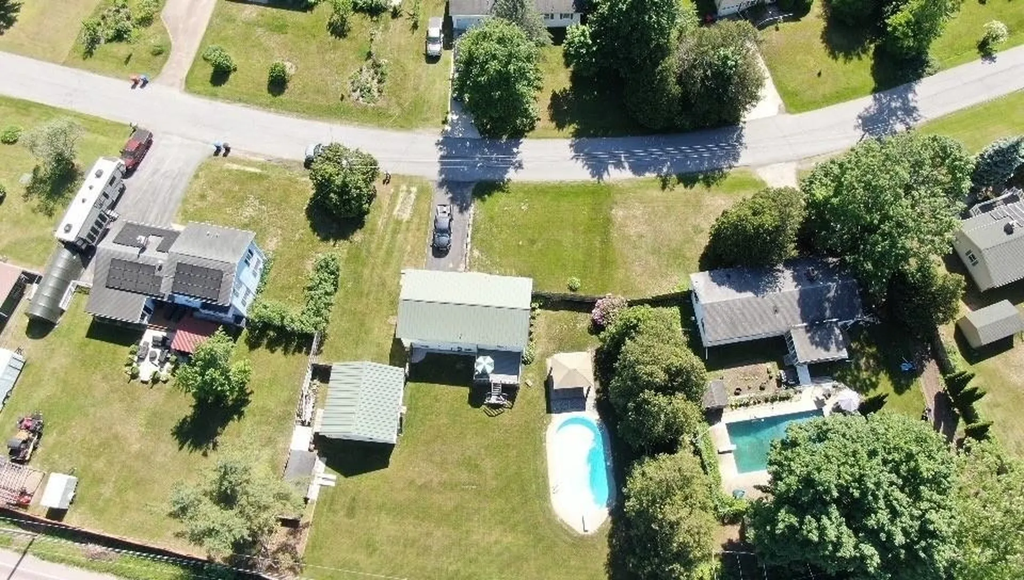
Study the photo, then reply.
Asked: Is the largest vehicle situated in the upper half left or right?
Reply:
left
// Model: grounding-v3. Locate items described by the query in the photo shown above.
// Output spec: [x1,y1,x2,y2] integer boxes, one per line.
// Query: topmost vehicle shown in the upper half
[426,20,442,54]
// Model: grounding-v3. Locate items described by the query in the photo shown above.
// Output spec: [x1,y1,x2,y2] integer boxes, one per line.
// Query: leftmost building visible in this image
[0,263,32,313]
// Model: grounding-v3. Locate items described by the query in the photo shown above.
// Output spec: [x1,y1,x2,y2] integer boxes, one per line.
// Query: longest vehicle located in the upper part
[57,160,125,248]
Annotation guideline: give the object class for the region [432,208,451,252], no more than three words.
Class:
vehicle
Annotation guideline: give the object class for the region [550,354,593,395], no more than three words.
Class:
gazebo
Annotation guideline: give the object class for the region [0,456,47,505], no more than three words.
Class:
trailer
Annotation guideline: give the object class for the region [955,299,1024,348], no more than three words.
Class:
shed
